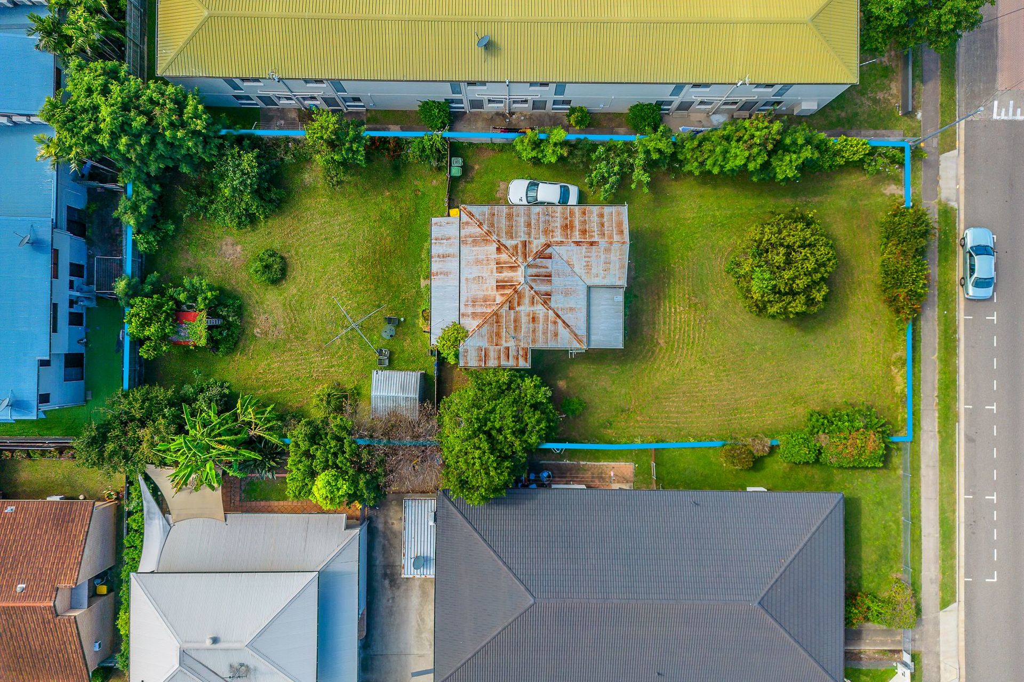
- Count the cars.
2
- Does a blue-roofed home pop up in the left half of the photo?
Yes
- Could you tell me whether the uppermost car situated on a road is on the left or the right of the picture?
right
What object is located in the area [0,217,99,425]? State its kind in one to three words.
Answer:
house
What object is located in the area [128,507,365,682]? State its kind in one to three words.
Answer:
house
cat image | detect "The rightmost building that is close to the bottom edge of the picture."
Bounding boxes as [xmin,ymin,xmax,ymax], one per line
[438,483,847,682]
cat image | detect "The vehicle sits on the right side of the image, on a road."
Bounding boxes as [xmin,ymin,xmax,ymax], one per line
[962,228,1005,301]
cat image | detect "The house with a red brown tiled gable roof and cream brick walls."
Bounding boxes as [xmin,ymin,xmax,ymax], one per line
[0,487,115,682]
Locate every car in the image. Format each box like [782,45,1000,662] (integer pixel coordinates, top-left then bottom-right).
[507,175,581,202]
[962,228,1005,301]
